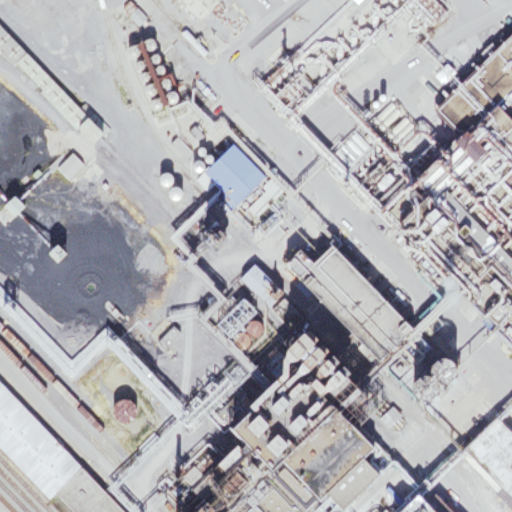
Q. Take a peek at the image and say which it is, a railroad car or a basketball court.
railroad car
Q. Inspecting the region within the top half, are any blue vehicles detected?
No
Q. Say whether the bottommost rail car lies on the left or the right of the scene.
left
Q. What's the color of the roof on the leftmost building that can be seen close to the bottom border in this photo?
white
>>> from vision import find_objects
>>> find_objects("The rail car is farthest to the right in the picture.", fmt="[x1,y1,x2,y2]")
[77,404,106,432]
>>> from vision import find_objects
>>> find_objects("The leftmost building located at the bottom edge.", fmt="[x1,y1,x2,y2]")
[0,387,80,501]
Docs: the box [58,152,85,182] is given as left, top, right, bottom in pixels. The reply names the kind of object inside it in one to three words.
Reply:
house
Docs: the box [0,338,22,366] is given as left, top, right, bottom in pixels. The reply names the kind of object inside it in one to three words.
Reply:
rail car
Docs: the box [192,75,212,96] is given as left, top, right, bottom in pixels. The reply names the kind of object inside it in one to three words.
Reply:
vehicle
